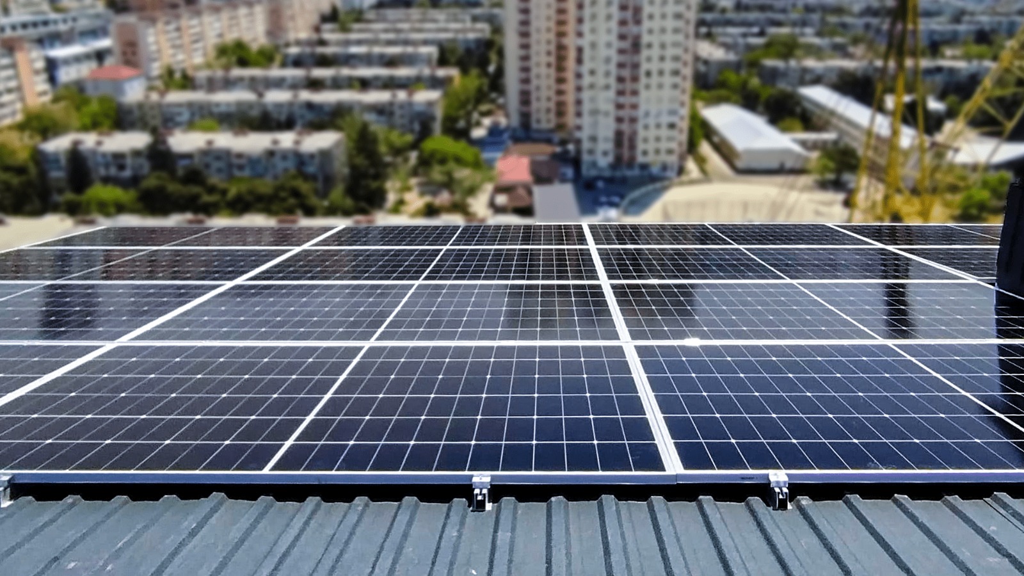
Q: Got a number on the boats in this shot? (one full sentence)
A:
I count no boats.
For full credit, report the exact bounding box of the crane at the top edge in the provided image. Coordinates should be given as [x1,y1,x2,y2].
[850,0,1024,224]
